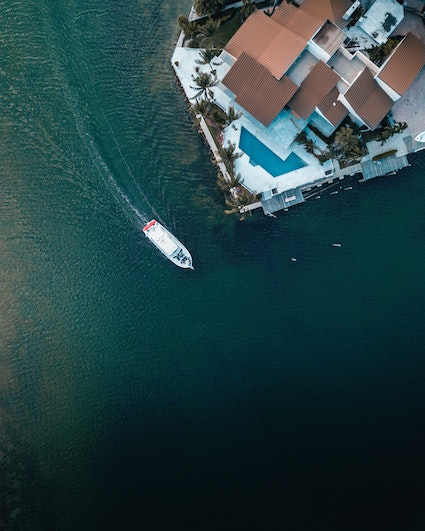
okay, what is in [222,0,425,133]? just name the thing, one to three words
house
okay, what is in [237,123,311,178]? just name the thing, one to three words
swimming pool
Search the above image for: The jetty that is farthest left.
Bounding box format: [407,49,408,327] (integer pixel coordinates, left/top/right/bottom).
[262,188,306,215]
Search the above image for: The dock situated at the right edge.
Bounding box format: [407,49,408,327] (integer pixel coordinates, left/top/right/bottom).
[360,151,410,181]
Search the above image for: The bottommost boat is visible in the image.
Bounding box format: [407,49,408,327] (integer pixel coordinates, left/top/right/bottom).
[142,218,195,271]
